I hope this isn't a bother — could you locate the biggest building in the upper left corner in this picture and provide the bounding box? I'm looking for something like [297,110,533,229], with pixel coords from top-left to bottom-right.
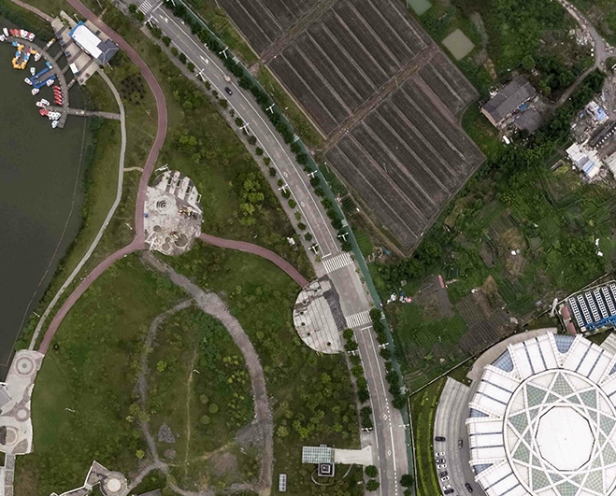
[68,23,115,68]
